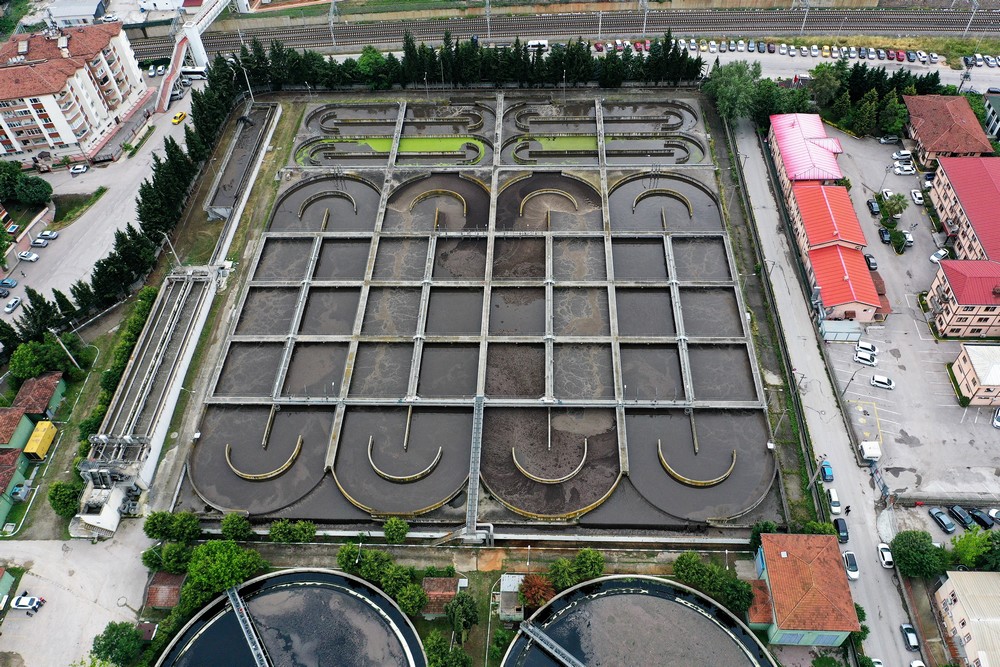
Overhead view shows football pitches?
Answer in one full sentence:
No, the photo shows no football pitch.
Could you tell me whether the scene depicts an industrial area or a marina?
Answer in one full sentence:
It's an industrial area.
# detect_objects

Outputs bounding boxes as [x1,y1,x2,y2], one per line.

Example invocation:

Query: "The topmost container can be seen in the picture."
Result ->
[21,420,60,462]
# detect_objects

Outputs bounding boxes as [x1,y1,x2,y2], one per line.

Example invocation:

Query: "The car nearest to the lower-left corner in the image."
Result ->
[8,594,42,611]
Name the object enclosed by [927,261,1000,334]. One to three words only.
building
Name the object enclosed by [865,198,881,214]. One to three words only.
car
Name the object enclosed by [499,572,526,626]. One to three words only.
shed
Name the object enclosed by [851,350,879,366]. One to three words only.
car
